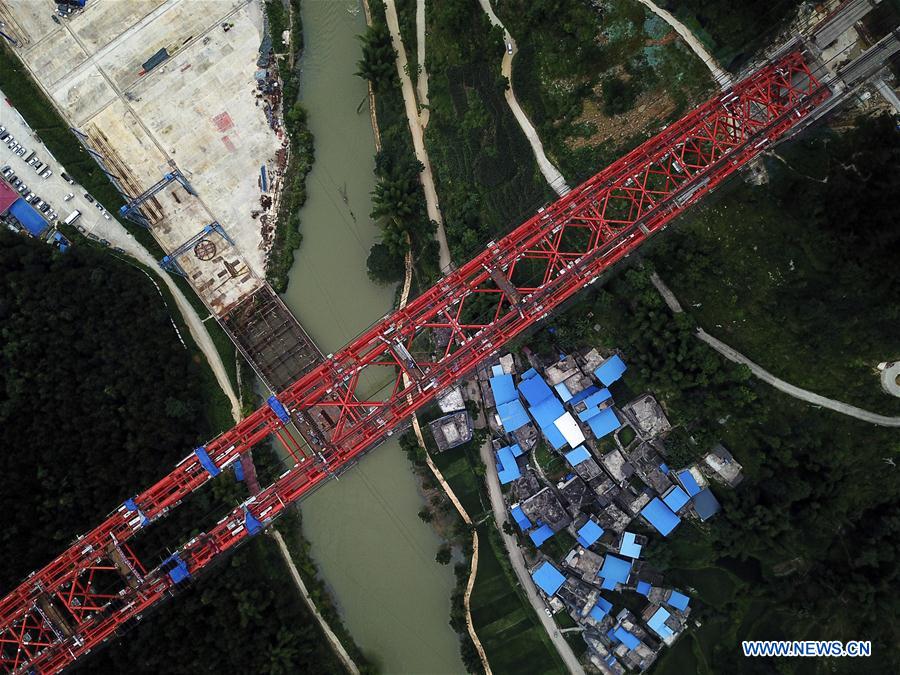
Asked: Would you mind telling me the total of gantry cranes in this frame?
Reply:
2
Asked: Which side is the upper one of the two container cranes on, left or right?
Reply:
left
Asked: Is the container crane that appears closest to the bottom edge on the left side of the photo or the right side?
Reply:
left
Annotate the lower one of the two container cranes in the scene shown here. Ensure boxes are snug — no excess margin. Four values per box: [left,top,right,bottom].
[156,221,245,283]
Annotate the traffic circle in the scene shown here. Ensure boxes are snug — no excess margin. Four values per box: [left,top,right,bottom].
[877,361,900,399]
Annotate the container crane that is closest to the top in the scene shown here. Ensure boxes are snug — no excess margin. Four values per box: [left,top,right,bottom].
[119,168,209,233]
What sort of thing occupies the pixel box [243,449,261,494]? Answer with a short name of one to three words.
shed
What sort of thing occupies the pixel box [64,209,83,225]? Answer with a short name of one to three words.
vehicle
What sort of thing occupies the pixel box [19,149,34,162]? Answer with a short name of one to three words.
vehicle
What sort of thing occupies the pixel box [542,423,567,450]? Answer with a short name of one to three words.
house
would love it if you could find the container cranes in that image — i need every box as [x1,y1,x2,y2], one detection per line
[156,221,245,283]
[119,168,209,233]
